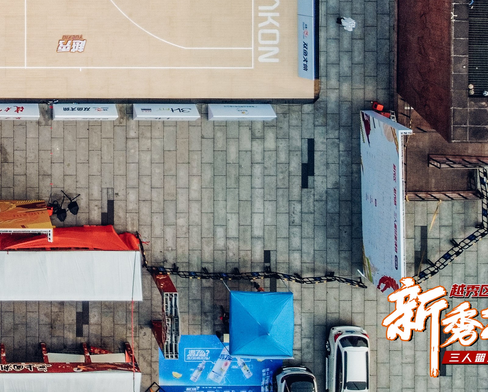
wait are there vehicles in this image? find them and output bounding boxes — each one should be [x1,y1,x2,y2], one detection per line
[326,325,376,392]
[274,362,317,392]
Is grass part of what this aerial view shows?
No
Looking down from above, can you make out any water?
No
